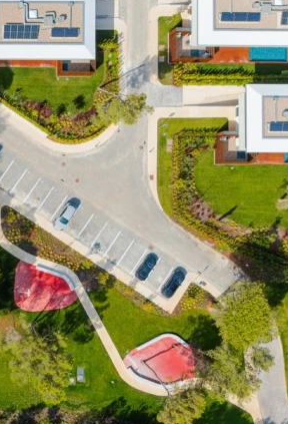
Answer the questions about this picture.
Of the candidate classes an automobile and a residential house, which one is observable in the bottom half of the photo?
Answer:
automobile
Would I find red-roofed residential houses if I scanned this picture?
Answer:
No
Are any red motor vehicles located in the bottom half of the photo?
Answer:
No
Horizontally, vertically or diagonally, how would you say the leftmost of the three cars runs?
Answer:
diagonally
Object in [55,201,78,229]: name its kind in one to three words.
car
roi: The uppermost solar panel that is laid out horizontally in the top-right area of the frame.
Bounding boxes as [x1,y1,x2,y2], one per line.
[220,12,262,25]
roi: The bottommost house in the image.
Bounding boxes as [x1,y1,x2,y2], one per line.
[214,84,288,164]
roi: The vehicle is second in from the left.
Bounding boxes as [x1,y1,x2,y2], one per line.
[134,253,157,281]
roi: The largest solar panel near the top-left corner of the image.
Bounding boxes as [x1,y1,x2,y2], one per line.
[4,25,40,42]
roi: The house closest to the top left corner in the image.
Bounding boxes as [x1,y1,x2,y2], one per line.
[0,0,96,77]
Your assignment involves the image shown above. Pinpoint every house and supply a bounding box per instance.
[168,0,288,63]
[214,84,288,164]
[0,0,96,77]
